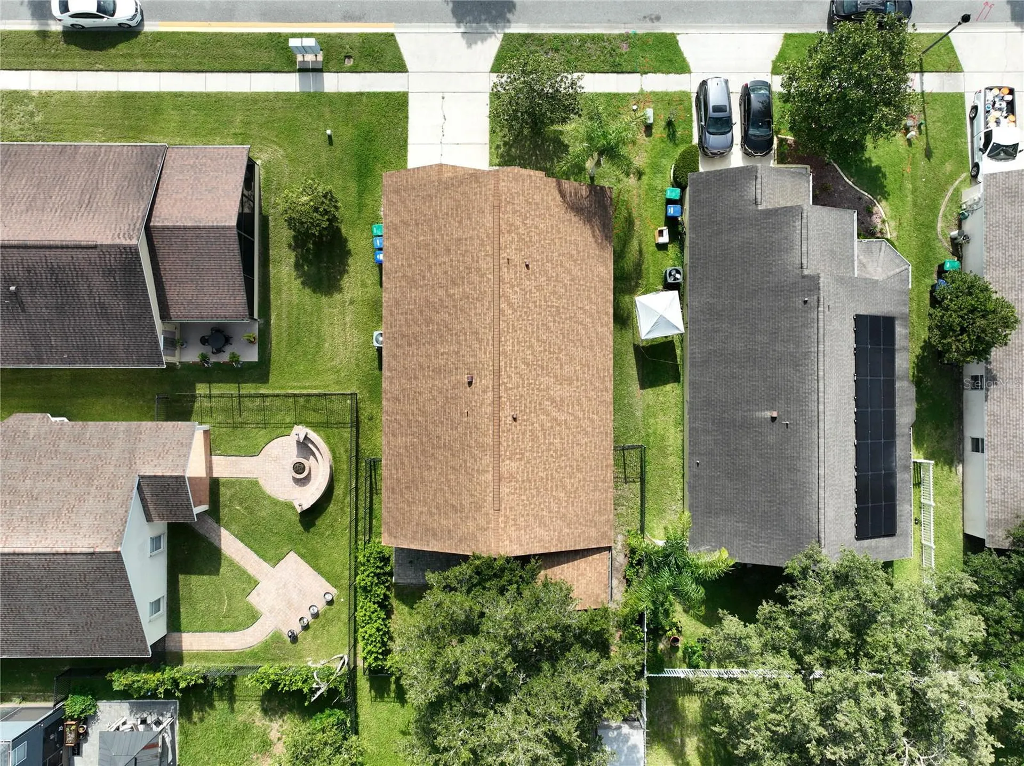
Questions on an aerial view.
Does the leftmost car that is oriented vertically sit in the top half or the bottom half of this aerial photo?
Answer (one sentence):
The top half of the photo is where the leftmost car that is oriented vertically is.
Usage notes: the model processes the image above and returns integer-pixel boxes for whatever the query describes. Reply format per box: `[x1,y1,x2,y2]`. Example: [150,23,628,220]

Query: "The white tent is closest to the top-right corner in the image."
[630,286,684,365]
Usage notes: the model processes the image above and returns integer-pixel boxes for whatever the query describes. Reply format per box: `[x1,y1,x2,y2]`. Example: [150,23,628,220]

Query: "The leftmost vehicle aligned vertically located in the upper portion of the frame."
[696,78,735,160]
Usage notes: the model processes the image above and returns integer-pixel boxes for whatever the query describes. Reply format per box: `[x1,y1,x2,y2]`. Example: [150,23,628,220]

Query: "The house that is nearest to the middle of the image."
[383,164,613,613]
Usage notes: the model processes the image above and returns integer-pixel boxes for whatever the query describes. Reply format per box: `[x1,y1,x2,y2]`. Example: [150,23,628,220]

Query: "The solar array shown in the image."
[854,314,897,539]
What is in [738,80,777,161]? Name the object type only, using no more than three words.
car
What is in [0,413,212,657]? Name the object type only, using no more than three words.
house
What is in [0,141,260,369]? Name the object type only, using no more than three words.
house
